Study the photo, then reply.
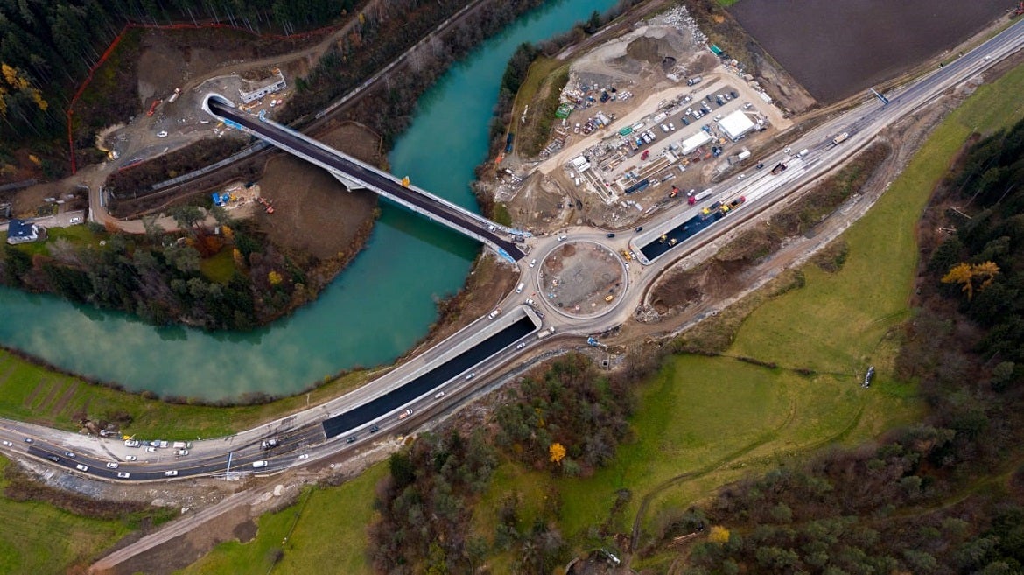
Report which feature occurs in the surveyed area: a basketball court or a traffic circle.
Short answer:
traffic circle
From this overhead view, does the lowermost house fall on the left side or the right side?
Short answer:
left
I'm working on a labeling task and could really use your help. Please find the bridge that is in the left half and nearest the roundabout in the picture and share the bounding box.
[222,103,536,266]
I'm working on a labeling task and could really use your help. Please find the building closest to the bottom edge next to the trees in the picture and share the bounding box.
[0,222,50,250]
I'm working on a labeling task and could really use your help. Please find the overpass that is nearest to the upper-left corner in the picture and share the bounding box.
[85,172,108,220]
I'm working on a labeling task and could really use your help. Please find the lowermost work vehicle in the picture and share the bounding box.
[597,543,621,565]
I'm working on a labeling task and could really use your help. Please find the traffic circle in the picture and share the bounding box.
[525,229,640,330]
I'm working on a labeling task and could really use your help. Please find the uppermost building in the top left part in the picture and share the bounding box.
[240,76,286,101]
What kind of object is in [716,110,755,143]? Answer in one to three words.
building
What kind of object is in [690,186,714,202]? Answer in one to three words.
vehicle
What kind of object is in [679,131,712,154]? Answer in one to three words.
building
